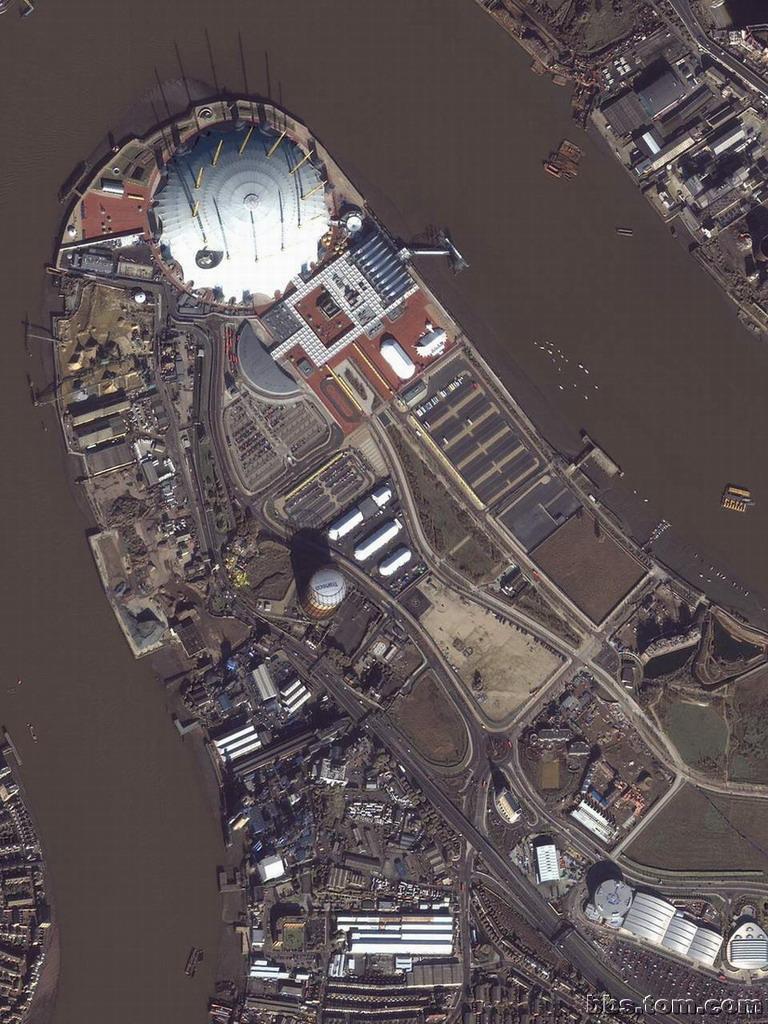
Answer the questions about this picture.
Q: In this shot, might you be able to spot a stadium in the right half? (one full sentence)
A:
No, there is no stadium in the right half.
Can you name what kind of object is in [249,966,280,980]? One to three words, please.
building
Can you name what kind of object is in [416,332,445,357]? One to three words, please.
tent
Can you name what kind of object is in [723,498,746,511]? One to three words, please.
ship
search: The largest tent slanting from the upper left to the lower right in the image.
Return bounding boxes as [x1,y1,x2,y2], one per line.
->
[380,344,412,381]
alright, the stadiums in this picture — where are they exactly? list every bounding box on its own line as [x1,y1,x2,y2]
[148,110,336,312]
